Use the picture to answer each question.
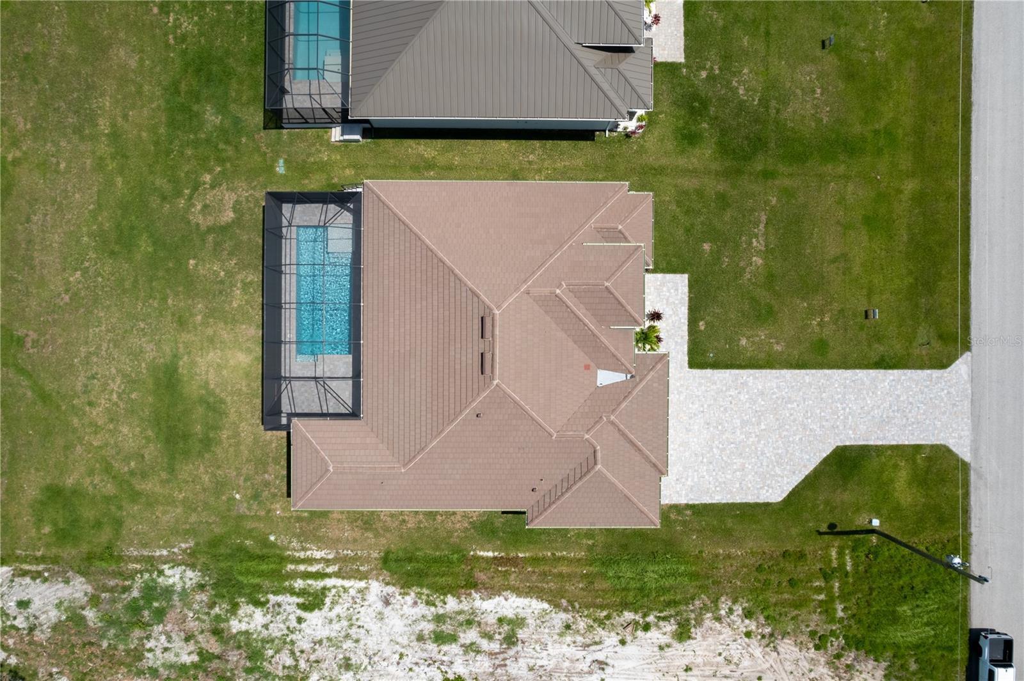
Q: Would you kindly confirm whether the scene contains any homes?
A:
Yes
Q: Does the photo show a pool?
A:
Yes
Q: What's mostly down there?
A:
grass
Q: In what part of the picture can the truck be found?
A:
bottom right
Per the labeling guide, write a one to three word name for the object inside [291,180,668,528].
house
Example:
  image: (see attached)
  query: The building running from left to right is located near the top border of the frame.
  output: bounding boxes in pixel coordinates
[351,0,655,135]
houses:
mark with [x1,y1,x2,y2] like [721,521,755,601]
[291,180,668,528]
[351,0,655,135]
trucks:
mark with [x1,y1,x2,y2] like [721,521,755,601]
[971,629,1014,681]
